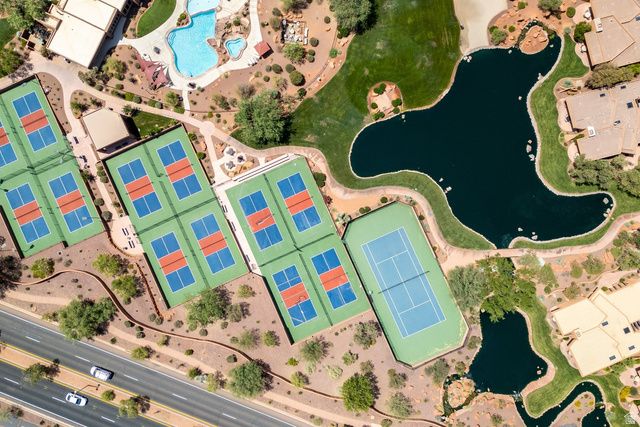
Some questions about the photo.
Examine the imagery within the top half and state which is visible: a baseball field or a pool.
pool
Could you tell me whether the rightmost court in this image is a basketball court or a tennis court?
tennis court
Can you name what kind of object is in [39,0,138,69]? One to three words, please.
building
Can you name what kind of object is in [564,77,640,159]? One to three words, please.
house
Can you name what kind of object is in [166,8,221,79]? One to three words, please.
swimming pool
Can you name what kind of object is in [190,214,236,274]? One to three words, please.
sports court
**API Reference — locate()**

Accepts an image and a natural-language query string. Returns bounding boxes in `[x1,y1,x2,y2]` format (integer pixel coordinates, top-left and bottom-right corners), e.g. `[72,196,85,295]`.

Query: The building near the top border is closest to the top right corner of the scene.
[583,0,640,68]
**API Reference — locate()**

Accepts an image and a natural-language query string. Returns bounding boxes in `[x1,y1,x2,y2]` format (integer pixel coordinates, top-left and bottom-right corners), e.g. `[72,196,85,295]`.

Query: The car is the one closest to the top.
[91,366,112,381]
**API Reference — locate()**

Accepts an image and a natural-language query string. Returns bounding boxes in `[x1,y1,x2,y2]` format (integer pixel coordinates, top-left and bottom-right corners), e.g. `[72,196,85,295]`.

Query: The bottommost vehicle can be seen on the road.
[66,391,89,406]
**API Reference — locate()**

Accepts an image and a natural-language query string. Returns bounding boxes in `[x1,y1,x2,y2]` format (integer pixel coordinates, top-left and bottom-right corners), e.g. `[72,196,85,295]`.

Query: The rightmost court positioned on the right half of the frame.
[344,203,468,366]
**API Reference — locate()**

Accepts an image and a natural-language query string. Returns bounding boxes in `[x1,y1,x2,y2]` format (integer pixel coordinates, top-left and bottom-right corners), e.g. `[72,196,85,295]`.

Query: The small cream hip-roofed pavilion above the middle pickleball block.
[82,108,136,156]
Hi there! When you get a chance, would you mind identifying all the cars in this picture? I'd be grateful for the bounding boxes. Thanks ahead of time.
[91,366,112,381]
[66,391,89,406]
